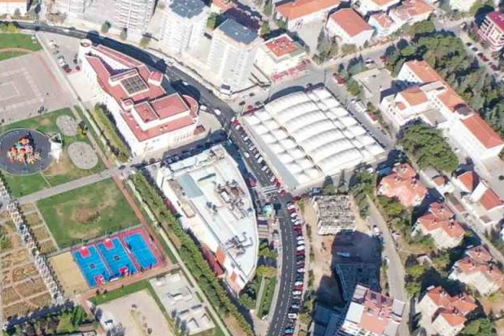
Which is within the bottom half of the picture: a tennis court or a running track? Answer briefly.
tennis court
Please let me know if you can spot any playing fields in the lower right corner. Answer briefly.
No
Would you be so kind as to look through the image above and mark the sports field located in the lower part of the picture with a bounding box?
[36,179,143,248]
